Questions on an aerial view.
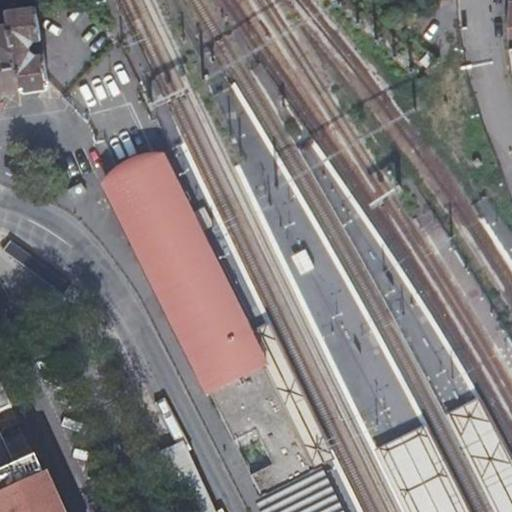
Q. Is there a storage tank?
No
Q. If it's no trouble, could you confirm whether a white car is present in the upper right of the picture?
Yes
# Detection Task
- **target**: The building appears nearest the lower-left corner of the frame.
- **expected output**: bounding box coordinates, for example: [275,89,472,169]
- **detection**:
[0,449,72,512]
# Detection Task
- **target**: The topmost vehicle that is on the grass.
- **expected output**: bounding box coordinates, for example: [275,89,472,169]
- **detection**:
[422,20,440,41]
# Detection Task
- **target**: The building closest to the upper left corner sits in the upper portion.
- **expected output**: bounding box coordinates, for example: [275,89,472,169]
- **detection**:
[0,5,48,97]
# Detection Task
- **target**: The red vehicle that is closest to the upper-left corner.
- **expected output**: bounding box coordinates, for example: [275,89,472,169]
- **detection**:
[89,148,102,168]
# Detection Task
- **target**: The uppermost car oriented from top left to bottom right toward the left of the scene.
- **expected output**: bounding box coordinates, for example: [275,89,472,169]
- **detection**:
[42,18,63,36]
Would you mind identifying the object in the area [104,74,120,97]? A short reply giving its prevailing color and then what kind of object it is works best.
white vehicle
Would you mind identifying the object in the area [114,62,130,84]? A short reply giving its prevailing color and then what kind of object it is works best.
white car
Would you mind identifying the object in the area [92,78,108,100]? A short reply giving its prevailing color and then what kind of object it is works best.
white vehicle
